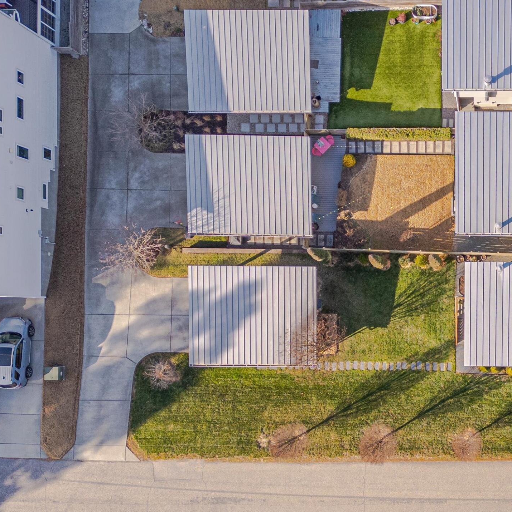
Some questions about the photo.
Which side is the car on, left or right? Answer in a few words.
left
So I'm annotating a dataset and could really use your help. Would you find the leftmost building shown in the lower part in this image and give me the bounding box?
[186,265,319,369]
